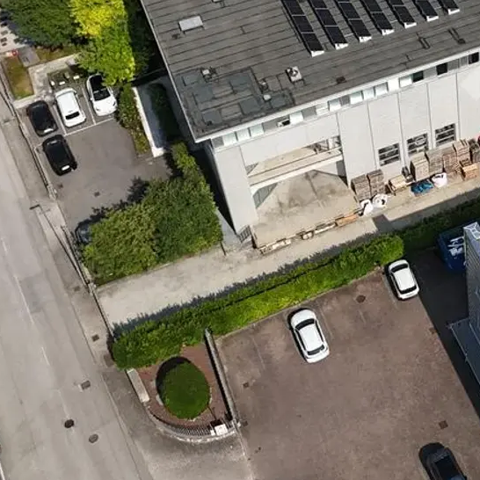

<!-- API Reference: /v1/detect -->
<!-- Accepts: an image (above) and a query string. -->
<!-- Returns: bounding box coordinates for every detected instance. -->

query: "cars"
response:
[383,259,423,305]
[88,79,118,116]
[42,133,78,178]
[288,310,328,365]
[25,101,58,139]
[54,91,87,129]
[421,438,467,480]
